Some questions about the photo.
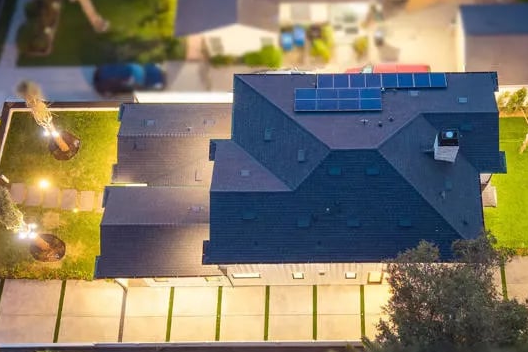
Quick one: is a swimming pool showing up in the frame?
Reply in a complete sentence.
No, I can't see a single swimming pool in this photo.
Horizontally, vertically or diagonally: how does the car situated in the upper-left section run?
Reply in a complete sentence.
The car situated in the upper-left section runs horizontally in the image.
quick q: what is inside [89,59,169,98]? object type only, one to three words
car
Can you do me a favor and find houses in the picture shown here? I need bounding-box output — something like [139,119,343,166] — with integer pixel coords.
[175,0,447,58]
[94,71,505,290]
